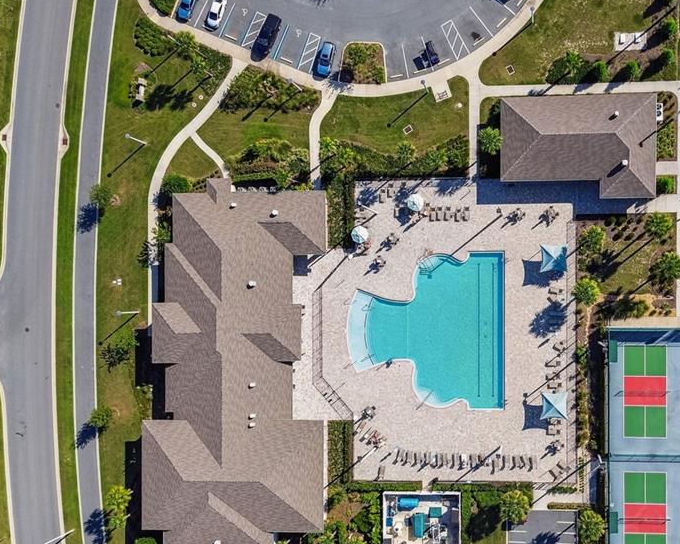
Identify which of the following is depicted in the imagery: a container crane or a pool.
pool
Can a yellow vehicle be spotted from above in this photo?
No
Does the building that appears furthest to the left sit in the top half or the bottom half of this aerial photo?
bottom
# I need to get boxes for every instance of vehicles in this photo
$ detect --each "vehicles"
[251,15,280,59]
[425,46,439,67]
[204,0,225,31]
[315,42,334,78]
[177,0,196,22]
